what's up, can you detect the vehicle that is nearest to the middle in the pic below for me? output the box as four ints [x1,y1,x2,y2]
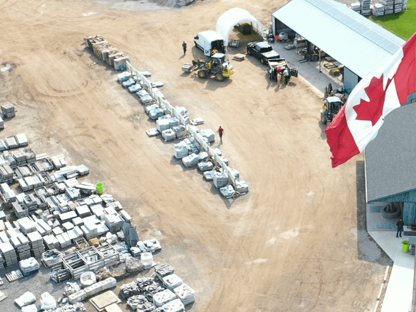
[191,56,234,79]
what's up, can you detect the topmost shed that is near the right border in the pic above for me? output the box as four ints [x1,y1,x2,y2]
[269,0,416,108]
